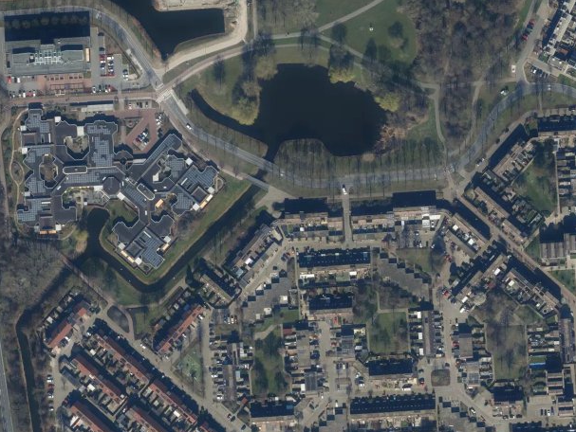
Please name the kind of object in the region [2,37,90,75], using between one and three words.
building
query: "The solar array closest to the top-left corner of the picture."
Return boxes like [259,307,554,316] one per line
[26,114,49,133]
